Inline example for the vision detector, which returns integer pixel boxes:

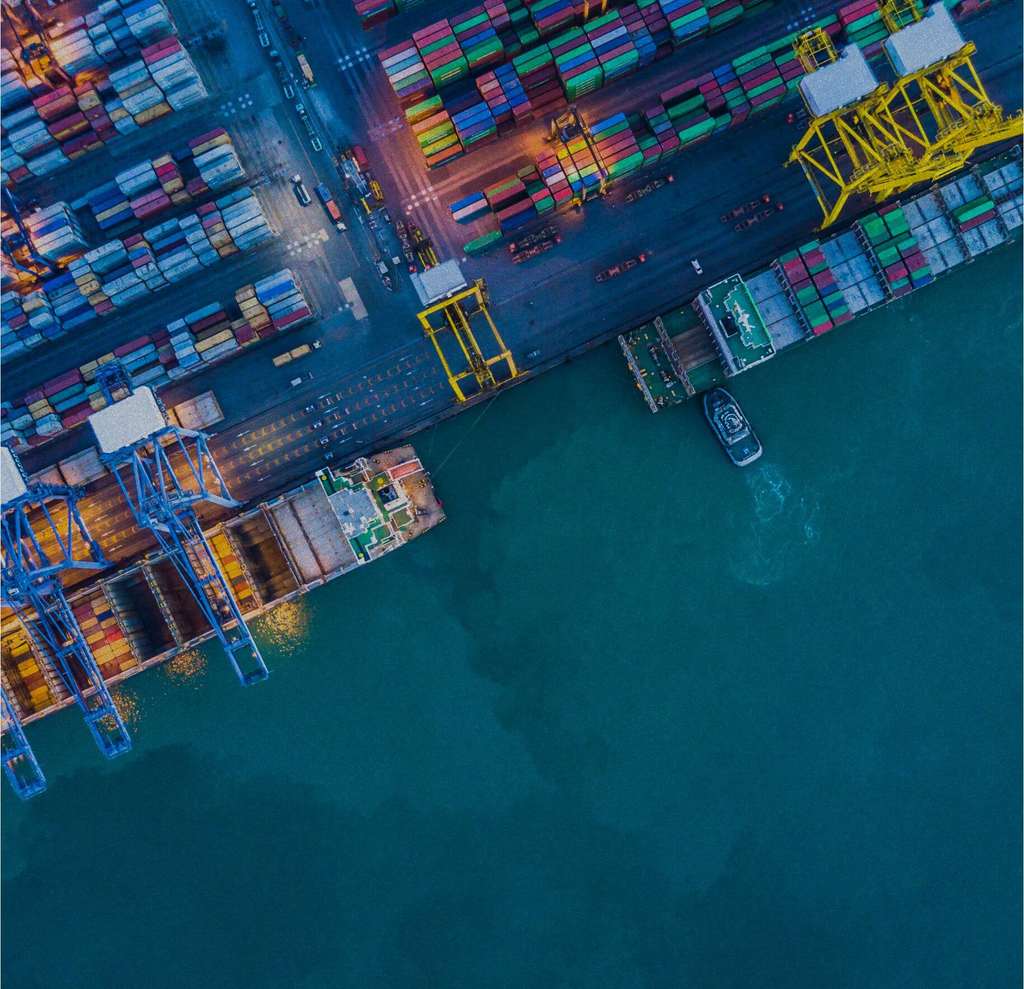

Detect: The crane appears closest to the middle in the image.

[406,231,527,407]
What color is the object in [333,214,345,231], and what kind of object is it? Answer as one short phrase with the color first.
white vehicle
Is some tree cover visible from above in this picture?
No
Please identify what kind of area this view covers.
port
